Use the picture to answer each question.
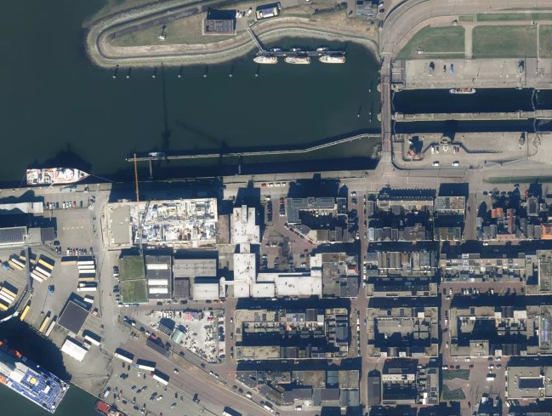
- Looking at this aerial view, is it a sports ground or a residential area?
residential area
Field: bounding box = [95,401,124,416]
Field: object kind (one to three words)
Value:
boat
